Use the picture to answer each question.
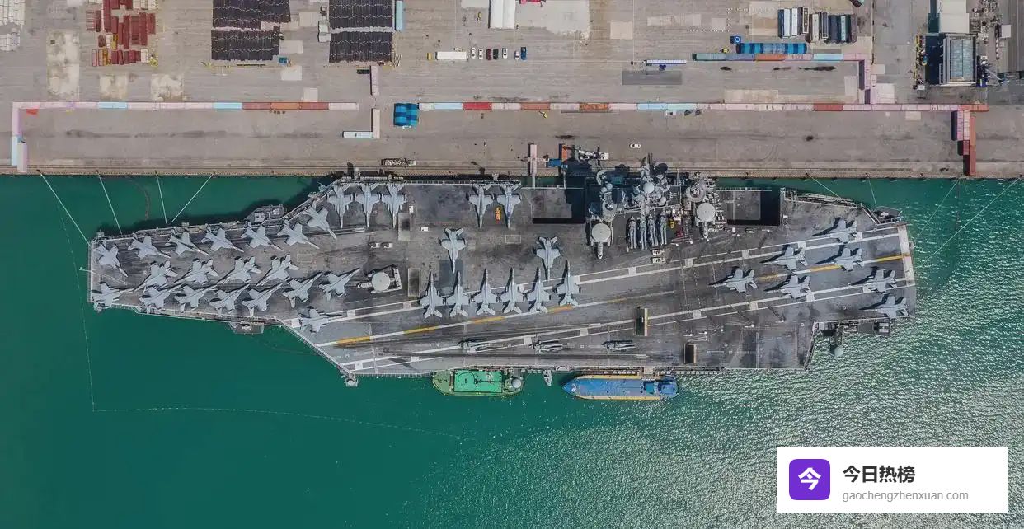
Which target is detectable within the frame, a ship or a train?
ship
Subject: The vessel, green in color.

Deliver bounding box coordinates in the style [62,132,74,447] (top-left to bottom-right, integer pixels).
[432,369,524,397]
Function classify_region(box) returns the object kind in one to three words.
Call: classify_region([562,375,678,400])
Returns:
ship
